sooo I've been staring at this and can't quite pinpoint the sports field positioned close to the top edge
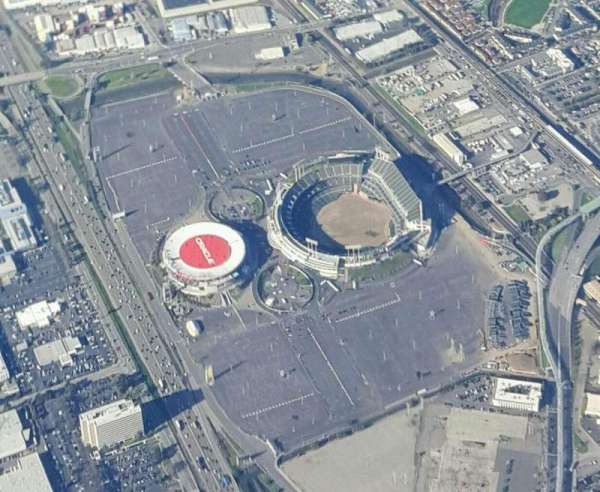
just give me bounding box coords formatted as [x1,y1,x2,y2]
[504,0,549,29]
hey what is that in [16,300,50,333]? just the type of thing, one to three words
building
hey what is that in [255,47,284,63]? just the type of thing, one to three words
shed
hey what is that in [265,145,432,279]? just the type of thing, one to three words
stadium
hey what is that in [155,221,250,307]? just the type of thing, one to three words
stadium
